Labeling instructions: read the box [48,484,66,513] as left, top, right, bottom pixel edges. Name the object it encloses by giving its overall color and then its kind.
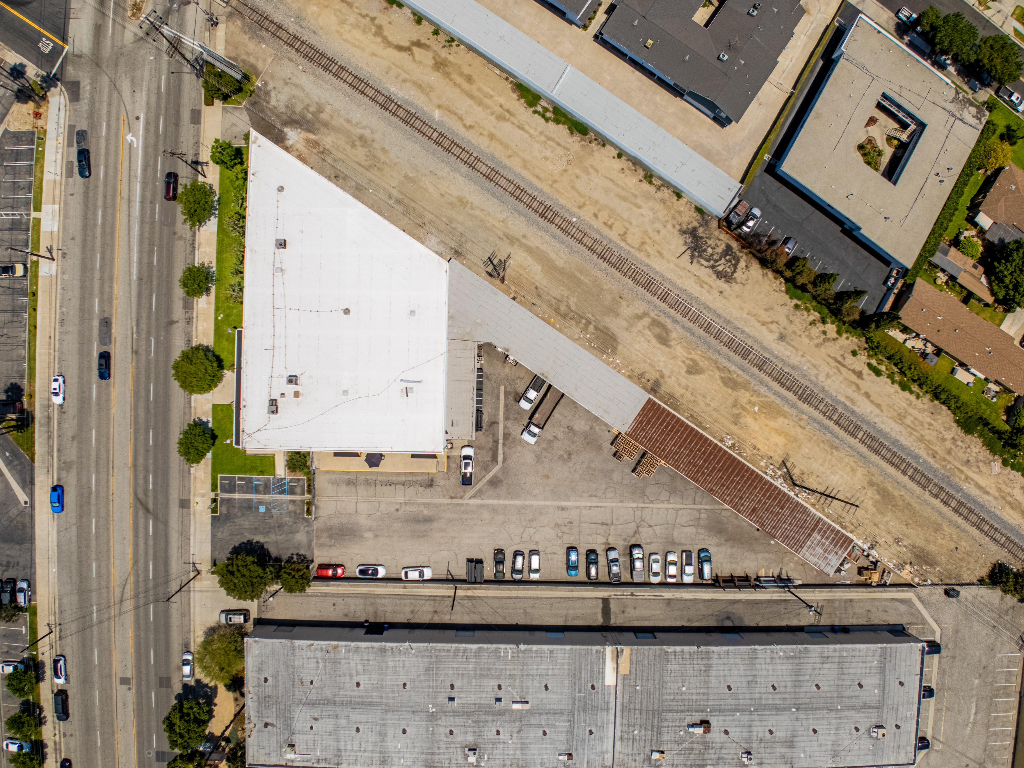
blue car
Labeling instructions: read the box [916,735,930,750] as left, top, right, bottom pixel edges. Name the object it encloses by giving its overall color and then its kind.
black car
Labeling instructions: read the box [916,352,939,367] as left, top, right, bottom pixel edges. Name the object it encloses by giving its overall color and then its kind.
gray gazebo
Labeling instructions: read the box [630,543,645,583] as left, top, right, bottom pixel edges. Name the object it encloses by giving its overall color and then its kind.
gray vehicle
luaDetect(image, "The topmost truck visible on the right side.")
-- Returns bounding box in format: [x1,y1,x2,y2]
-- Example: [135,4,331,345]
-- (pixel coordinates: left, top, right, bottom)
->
[892,0,922,31]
